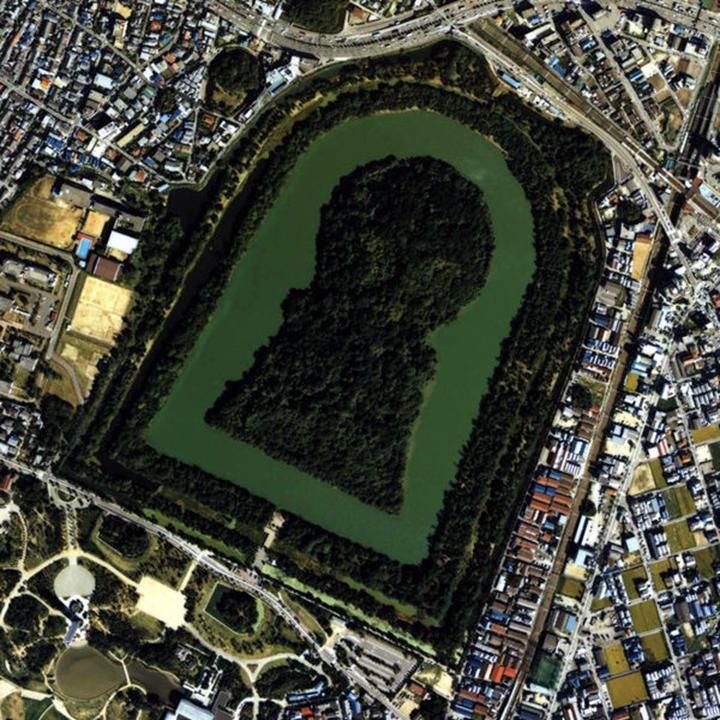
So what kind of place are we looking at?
residential area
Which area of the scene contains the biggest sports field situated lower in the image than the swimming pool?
left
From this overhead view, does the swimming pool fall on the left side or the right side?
left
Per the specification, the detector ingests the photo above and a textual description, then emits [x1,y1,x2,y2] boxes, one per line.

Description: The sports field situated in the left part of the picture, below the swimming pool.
[70,277,136,344]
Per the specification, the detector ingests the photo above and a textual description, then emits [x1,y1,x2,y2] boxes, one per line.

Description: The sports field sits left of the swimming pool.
[2,176,84,247]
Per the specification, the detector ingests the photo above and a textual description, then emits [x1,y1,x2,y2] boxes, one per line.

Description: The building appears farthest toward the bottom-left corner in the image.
[58,598,80,646]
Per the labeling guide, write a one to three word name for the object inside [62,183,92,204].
building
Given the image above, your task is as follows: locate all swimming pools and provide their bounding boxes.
[77,233,97,259]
